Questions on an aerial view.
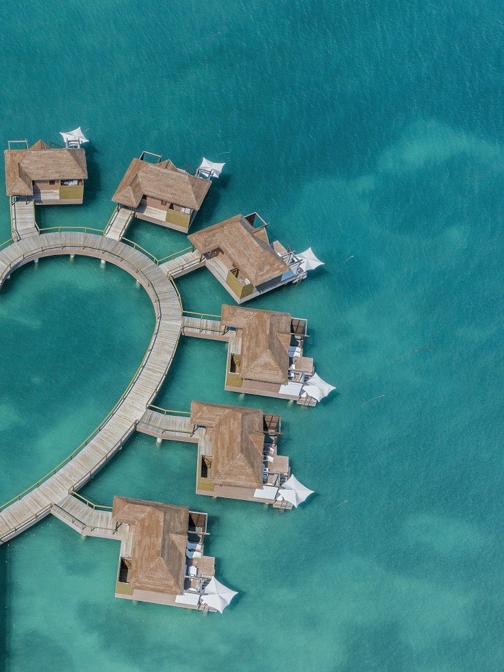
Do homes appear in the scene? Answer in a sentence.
Yes, there's a home down there.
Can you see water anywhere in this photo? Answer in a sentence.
Yes, water shows up in the scene.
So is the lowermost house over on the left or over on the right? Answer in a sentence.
The lowermost house sits on the left side.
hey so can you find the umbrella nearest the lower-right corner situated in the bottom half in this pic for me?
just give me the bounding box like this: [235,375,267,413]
[282,474,317,507]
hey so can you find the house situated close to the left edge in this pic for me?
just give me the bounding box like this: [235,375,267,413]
[3,135,87,212]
